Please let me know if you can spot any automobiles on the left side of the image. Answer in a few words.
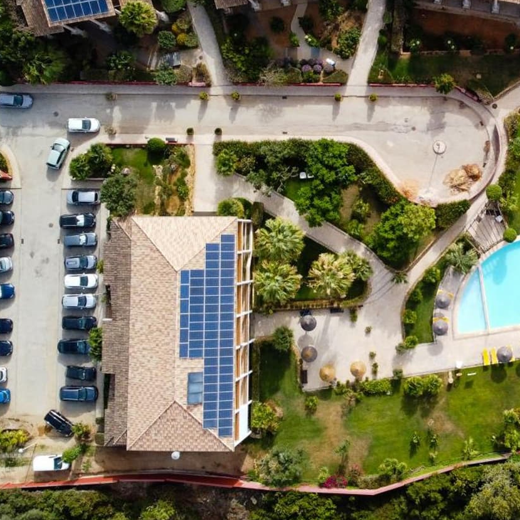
Yes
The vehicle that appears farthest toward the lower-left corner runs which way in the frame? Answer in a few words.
horizontally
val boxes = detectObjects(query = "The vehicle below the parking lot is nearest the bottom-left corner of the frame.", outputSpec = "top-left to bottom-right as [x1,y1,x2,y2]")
[27,453,71,474]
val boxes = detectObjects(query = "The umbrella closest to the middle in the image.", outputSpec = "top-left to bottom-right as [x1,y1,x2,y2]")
[300,313,318,331]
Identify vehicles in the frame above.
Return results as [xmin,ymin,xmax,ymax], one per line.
[0,339,13,356]
[0,316,13,333]
[59,292,99,311]
[0,282,19,300]
[45,136,72,172]
[58,212,98,231]
[0,232,19,249]
[59,384,99,404]
[64,188,102,207]
[54,338,94,356]
[59,314,100,333]
[61,231,101,249]
[64,365,100,384]
[62,253,99,272]
[39,406,78,439]
[64,115,104,134]
[61,273,102,292]
[27,453,71,474]
[0,188,19,207]
[0,387,13,404]
[0,366,8,382]
[0,255,18,274]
